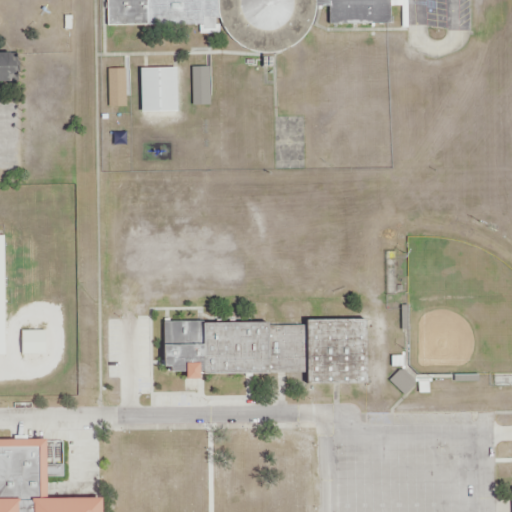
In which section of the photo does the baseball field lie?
right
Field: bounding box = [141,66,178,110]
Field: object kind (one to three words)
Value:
building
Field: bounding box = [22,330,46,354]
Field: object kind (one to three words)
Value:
shed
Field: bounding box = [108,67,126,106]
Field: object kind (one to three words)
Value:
building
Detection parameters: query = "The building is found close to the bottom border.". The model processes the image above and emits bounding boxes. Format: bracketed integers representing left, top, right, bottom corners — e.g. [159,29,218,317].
[0,440,104,512]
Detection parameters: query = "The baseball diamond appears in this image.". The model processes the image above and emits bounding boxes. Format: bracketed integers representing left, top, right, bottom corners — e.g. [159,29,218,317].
[408,236,512,373]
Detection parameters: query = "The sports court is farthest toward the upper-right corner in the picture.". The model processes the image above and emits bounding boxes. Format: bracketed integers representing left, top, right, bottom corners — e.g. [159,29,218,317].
[275,116,304,168]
